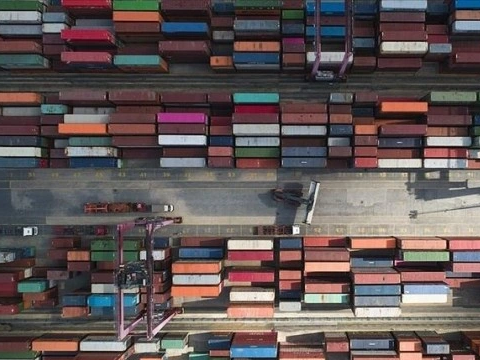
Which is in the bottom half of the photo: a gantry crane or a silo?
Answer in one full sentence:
It is a gantry crane that can be seen in the bottom half of the photo.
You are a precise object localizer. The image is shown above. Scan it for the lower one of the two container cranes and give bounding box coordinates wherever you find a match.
[111,214,188,344]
